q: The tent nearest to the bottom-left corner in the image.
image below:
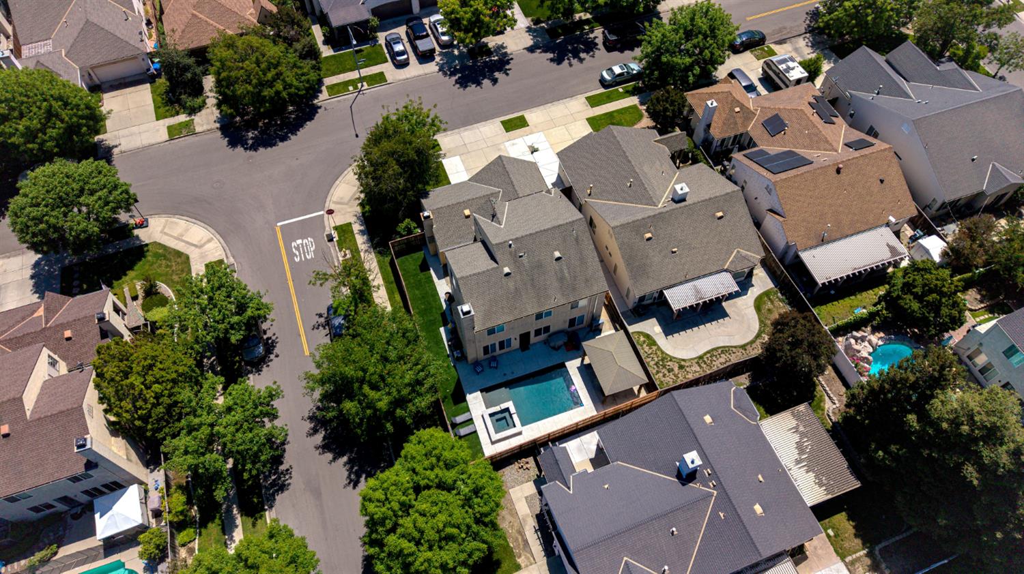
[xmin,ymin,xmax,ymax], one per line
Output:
[94,484,157,547]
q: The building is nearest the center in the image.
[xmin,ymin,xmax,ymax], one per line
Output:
[421,155,614,364]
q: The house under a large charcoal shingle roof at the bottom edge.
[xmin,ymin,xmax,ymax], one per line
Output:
[534,382,828,574]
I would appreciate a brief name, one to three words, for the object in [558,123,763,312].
house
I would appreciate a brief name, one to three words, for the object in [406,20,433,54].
truck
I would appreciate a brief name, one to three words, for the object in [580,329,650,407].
gazebo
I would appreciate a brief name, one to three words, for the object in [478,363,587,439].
swimming pool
